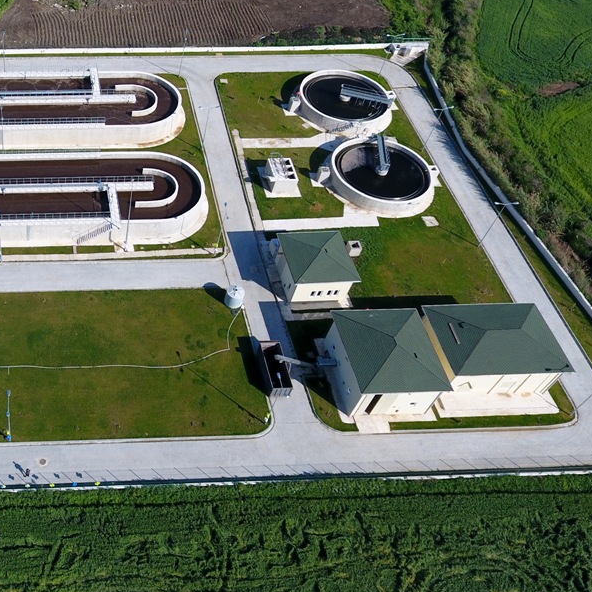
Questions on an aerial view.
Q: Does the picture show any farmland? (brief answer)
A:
Yes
